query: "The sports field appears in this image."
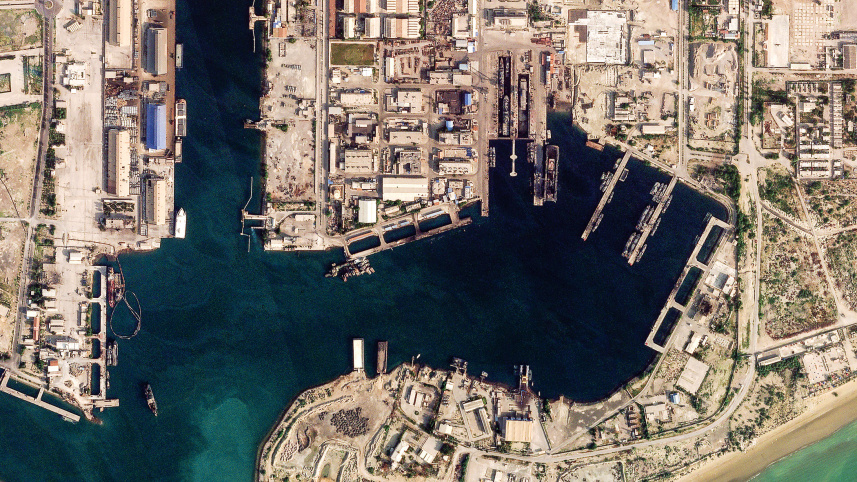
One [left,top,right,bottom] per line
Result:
[330,42,374,66]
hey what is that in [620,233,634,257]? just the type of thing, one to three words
ship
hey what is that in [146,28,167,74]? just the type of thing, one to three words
building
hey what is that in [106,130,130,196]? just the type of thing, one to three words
building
